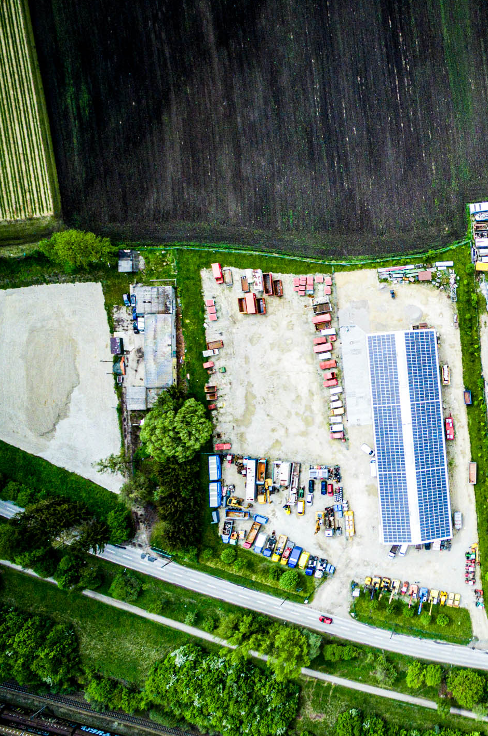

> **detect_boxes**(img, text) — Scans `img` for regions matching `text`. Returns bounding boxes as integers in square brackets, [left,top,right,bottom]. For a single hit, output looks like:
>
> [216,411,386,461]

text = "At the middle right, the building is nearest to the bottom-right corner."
[365,327,454,547]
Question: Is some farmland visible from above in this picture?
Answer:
Yes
